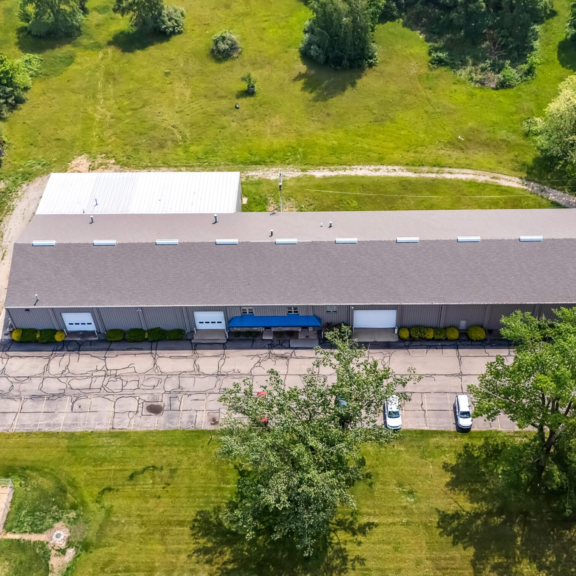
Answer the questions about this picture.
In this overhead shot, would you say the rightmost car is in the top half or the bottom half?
bottom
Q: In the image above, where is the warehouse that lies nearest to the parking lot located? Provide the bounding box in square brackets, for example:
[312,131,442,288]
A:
[4,209,576,331]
